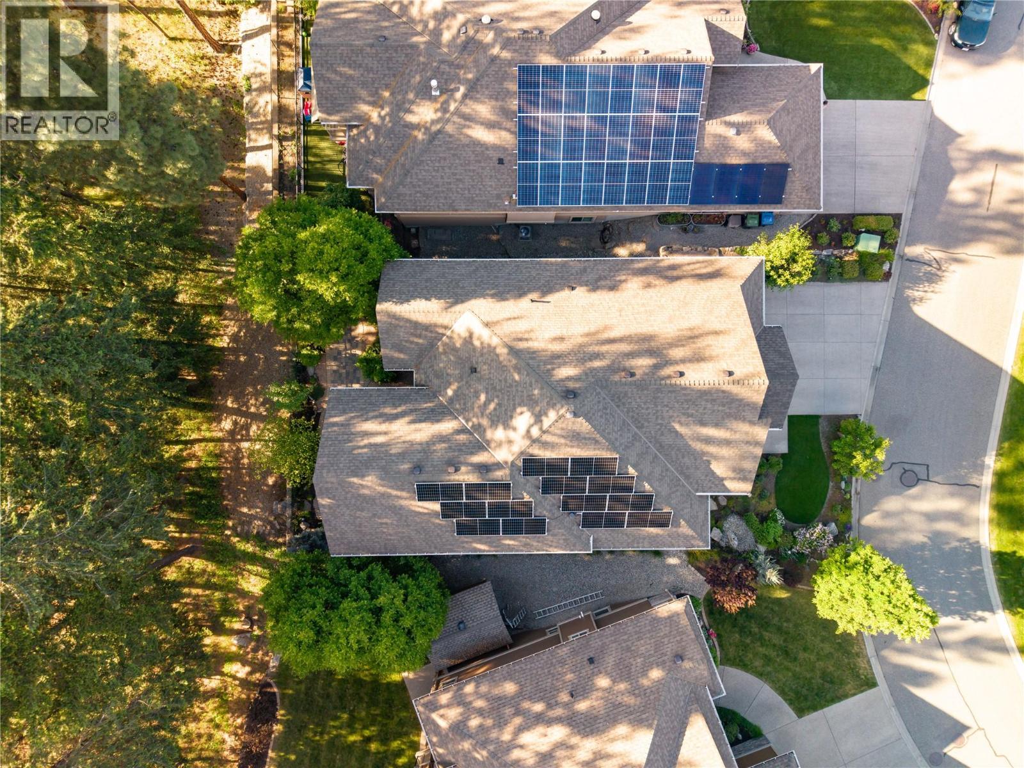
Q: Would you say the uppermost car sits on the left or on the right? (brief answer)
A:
right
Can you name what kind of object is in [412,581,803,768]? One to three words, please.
house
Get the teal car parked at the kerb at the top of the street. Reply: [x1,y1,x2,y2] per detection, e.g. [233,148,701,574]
[952,0,1011,48]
